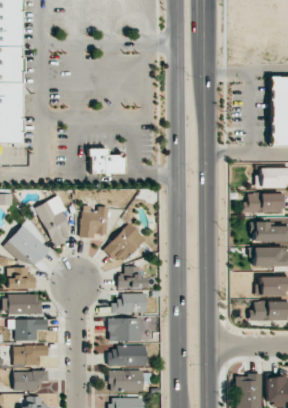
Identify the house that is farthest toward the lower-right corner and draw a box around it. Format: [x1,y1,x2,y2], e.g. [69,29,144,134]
[267,376,288,408]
